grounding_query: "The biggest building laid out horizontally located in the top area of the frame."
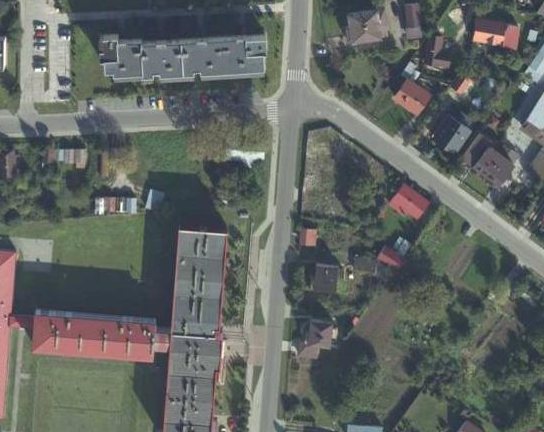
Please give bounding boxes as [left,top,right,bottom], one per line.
[99,34,267,85]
